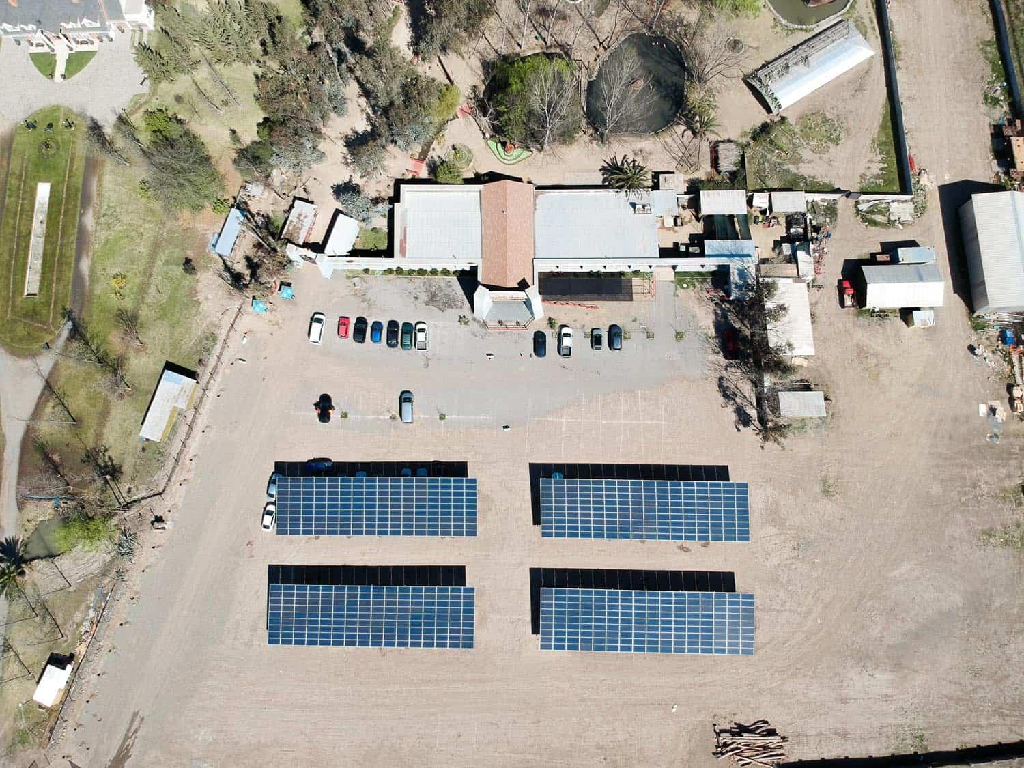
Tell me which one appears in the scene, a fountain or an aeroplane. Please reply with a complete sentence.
There is a fountain in the scene.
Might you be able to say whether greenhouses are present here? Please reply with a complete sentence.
Yes, this view includes a greenhouse.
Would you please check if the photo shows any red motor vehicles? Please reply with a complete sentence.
Yes, a red motor vehicle is visible in the scene.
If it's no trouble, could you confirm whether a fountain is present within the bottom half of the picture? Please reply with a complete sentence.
No, I can find no fountain within the bottom half of the picture.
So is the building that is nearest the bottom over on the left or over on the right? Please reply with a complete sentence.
The building that is nearest the bottom sits on the left side.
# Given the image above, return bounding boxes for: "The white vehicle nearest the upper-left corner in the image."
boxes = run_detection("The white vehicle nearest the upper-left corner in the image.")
[309,313,326,344]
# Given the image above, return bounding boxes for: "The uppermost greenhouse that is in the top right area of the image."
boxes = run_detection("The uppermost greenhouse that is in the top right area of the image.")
[749,22,872,114]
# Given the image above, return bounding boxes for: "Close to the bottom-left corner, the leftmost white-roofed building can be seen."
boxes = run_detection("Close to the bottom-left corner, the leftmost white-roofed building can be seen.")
[33,660,82,706]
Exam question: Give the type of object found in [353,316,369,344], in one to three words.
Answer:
car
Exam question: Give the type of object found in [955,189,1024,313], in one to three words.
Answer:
barn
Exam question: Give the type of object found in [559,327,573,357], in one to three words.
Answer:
vehicle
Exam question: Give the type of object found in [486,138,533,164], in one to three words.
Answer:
fountain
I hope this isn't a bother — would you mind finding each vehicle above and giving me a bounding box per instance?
[433,465,447,495]
[609,325,623,352]
[400,323,414,350]
[263,502,276,531]
[401,392,414,422]
[264,473,281,502]
[559,327,573,357]
[416,471,428,477]
[591,328,603,351]
[305,460,335,475]
[370,321,384,344]
[534,331,546,358]
[415,322,428,351]
[313,394,337,423]
[723,328,738,360]
[309,313,326,344]
[387,321,400,349]
[840,280,856,309]
[353,316,369,344]
[338,316,350,339]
